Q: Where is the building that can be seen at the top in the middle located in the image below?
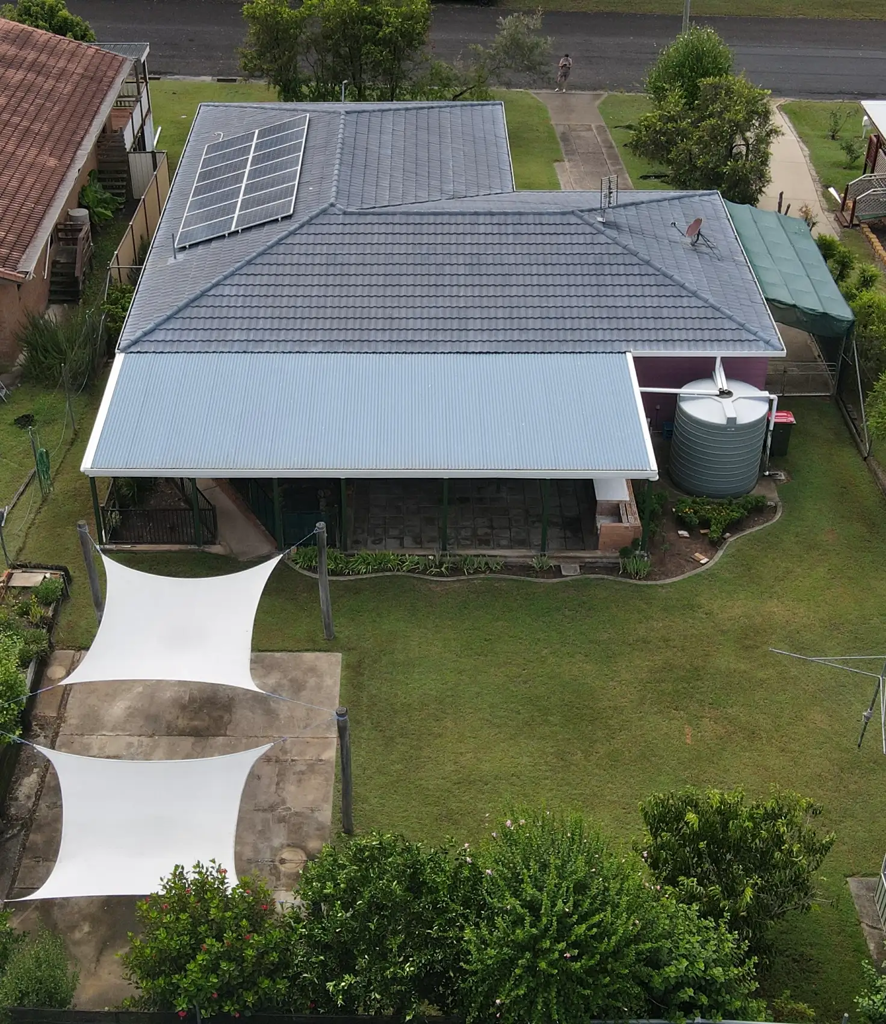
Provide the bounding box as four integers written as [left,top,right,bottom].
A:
[115,101,789,424]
